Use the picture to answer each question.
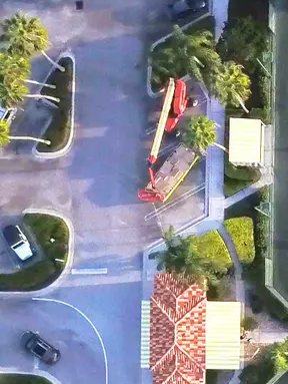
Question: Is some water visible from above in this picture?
No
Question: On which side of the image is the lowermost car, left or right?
left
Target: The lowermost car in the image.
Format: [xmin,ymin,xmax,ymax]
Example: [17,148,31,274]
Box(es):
[21,330,64,364]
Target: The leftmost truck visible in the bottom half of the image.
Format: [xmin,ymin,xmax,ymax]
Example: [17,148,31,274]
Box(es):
[0,221,38,266]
